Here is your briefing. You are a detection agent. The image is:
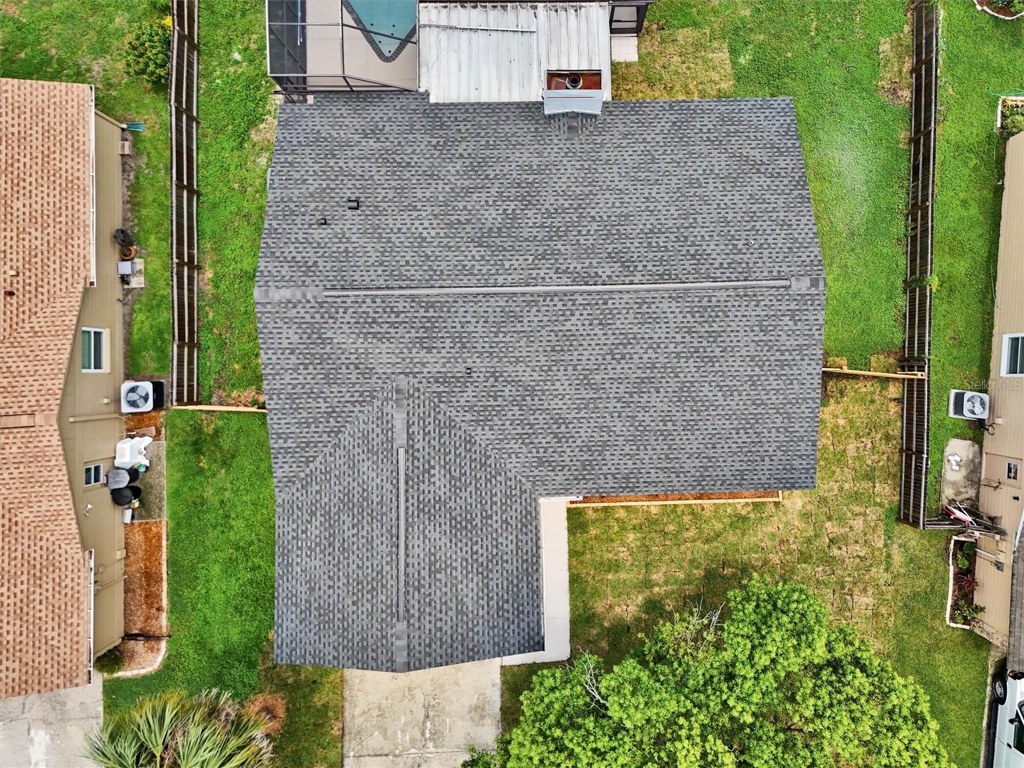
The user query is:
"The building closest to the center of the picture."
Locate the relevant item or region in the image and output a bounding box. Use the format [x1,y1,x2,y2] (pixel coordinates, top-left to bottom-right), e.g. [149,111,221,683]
[254,0,825,672]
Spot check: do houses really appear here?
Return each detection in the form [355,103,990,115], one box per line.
[0,73,130,696]
[972,133,1024,675]
[254,0,825,672]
